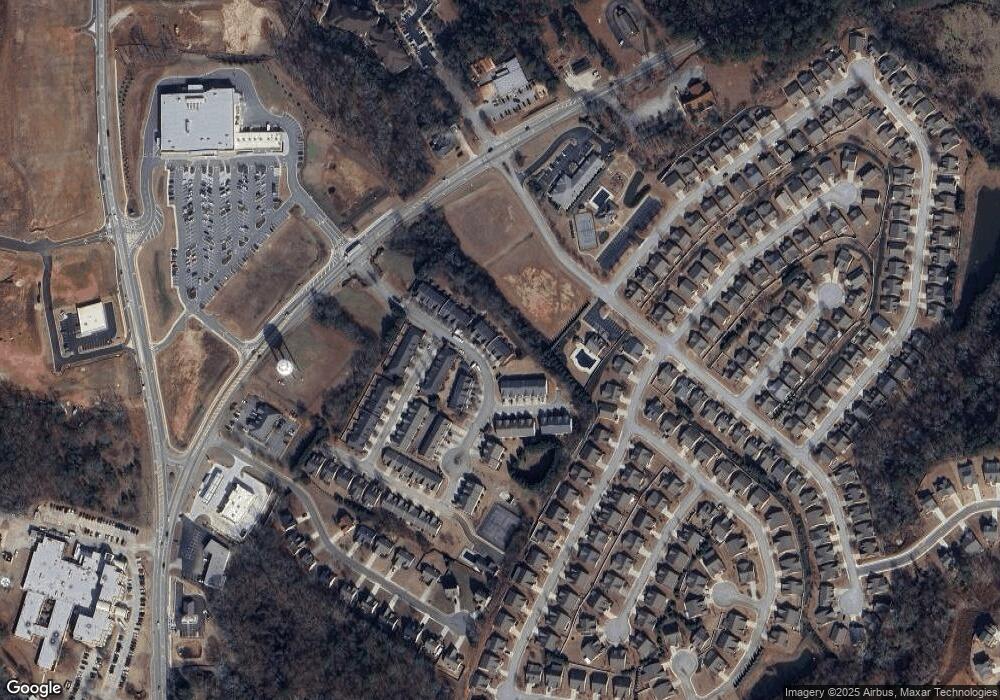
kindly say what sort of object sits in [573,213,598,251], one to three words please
tennis court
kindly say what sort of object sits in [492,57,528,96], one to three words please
building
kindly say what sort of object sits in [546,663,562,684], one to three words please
house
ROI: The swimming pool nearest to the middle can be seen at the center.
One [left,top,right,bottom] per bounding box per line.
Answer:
[570,343,601,373]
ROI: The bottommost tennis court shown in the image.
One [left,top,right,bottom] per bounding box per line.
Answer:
[477,503,522,552]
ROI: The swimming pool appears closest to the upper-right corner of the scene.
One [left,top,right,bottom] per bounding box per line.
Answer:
[591,186,613,209]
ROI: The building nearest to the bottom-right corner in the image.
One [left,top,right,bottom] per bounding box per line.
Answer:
[975,658,995,680]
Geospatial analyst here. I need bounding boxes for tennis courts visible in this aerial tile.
[573,213,598,251]
[477,503,522,552]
